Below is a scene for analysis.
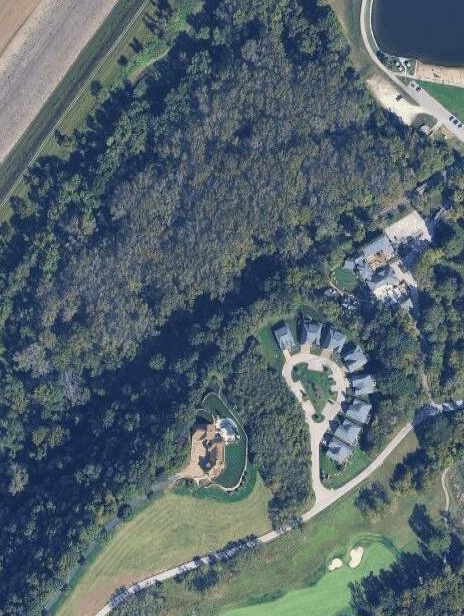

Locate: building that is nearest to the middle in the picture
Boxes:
[273,320,294,350]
